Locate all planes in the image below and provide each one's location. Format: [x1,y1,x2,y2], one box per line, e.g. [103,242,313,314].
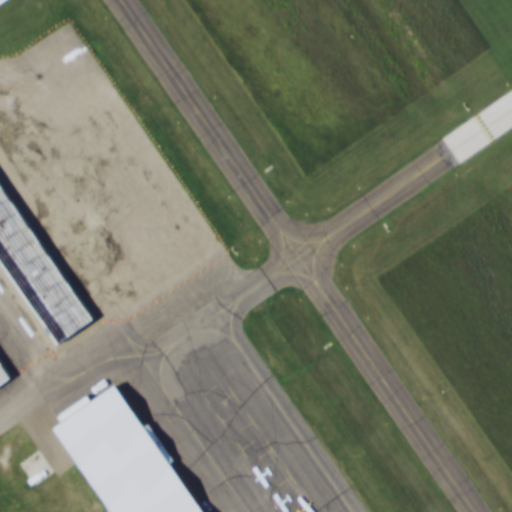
[254,467,273,488]
[298,498,317,512]
[274,494,293,512]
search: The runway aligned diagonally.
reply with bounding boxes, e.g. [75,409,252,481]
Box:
[444,90,512,164]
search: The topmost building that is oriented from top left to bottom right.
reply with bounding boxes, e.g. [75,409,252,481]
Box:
[0,186,92,343]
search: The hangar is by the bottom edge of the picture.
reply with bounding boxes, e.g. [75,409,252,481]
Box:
[52,386,202,512]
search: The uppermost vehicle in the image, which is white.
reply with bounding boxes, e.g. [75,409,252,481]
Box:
[62,46,88,64]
